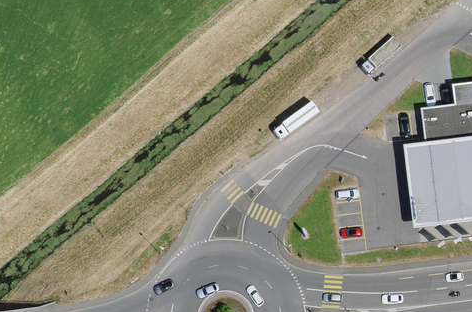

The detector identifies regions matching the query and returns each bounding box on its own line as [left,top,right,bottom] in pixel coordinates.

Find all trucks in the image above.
[361,37,401,76]
[272,100,320,143]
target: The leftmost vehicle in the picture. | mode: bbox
[153,278,175,294]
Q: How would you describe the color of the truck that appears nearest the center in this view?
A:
white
